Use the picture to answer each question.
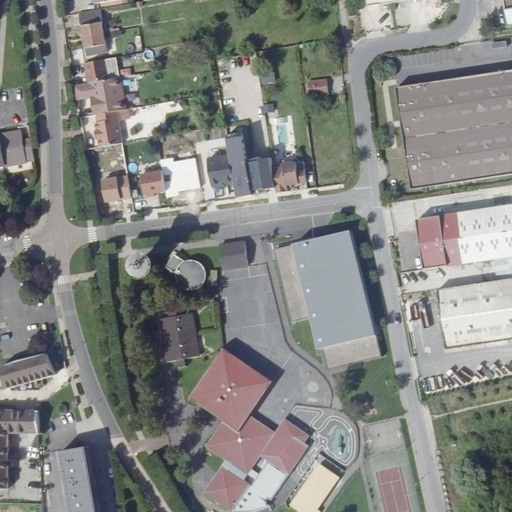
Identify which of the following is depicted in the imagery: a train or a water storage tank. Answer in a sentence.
Visible in the photo is a water storage tank.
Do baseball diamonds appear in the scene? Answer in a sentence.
No, there appears to be no baseball diamond in this shot.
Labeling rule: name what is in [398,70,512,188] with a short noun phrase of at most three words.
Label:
warehouse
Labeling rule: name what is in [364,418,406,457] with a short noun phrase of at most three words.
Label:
basketball court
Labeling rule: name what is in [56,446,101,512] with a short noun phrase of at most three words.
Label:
building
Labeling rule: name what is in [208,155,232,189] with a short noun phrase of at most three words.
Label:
house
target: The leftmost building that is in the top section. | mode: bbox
[0,130,34,172]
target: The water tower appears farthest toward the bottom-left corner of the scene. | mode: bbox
[122,250,154,278]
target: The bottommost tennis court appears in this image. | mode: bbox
[369,448,423,512]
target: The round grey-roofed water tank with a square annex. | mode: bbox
[166,242,206,289]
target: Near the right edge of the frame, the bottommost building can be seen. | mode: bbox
[438,278,512,347]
